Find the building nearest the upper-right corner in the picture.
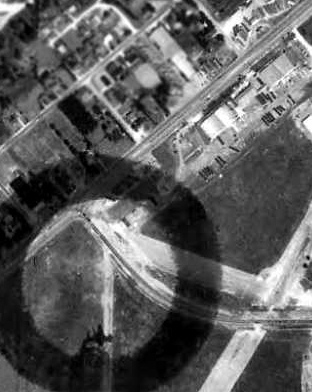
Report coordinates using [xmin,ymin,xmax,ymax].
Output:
[260,54,294,86]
